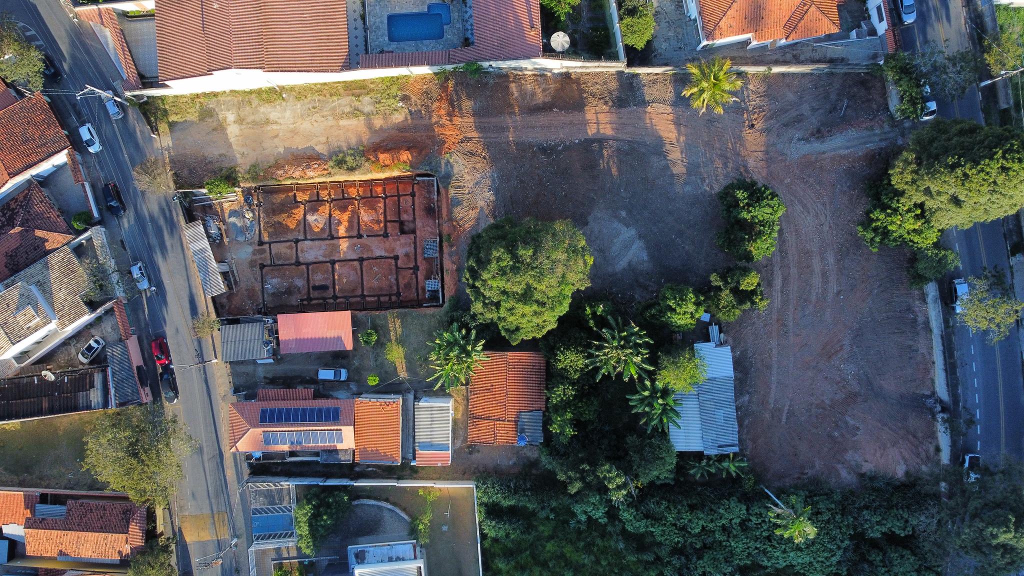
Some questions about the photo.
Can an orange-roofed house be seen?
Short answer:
Yes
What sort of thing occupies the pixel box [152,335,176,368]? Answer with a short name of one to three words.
car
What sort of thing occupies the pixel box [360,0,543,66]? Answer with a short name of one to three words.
building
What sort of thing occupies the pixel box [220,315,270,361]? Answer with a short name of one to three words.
shed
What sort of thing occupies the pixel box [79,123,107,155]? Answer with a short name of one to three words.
car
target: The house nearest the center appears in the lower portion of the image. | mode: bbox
[468,351,545,445]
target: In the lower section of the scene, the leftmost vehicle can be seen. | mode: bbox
[81,334,108,365]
